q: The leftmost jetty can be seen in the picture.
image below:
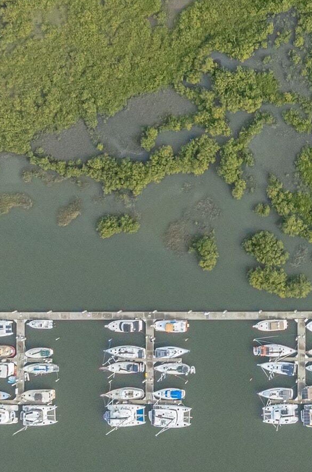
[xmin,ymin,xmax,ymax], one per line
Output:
[0,320,54,405]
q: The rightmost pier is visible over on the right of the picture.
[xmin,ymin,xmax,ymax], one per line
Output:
[270,320,312,404]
